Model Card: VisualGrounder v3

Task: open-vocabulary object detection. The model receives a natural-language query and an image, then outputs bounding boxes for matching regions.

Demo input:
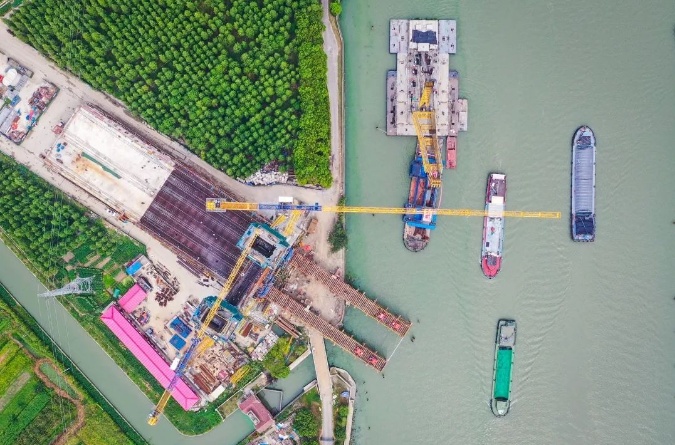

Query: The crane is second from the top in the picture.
[204,194,564,218]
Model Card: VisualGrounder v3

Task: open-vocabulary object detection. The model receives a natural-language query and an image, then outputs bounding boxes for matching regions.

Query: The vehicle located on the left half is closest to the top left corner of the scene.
[48,121,63,135]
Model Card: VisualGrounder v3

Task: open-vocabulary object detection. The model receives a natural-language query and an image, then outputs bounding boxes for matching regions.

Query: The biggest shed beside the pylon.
[101,307,200,411]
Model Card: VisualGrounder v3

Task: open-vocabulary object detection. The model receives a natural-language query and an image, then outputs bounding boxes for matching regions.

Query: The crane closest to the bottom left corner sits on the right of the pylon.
[144,227,262,424]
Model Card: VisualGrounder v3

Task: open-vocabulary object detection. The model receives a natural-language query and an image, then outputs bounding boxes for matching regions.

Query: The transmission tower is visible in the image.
[36,275,96,303]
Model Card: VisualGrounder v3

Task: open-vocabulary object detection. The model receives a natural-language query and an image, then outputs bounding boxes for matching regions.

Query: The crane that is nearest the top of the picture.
[370,18,459,188]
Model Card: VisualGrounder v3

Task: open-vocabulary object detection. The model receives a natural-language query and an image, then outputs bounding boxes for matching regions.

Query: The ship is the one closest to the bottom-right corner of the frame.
[490,318,517,419]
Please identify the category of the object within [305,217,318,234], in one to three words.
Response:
vehicle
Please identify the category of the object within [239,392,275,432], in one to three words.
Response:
house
